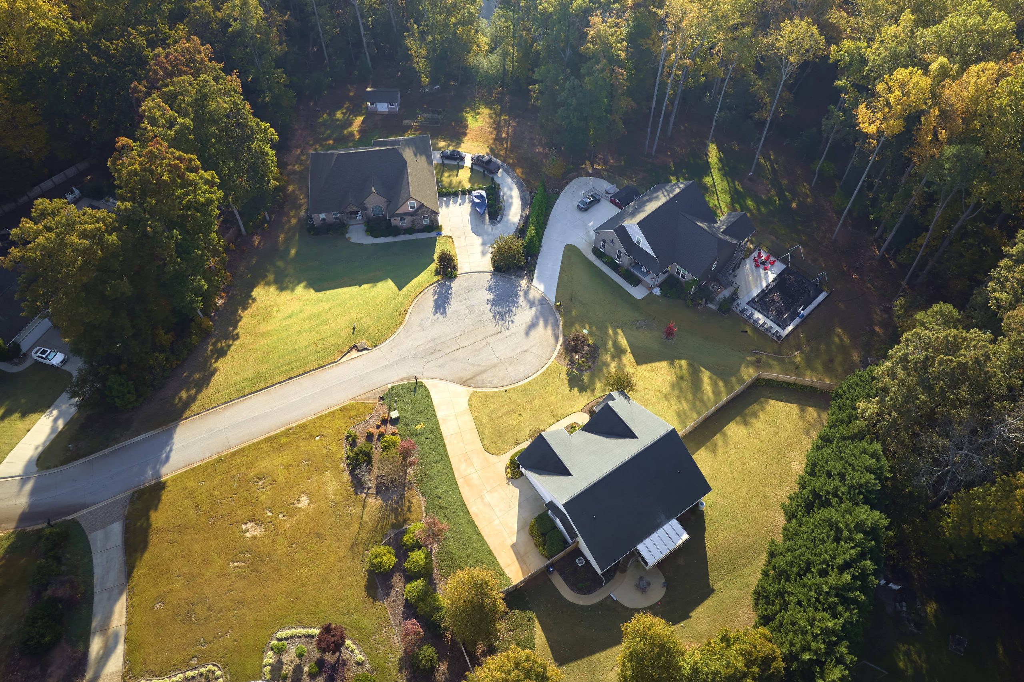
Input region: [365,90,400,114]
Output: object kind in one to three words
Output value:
shed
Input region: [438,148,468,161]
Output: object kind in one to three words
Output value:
vehicle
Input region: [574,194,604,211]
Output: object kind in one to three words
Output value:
car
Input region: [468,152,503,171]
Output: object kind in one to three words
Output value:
vehicle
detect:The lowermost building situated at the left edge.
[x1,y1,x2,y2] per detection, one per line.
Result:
[0,284,53,358]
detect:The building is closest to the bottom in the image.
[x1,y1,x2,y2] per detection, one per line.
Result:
[513,389,711,595]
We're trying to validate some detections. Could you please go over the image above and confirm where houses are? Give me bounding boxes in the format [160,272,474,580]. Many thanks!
[593,179,758,291]
[306,134,439,227]
[513,389,711,595]
[0,284,53,358]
